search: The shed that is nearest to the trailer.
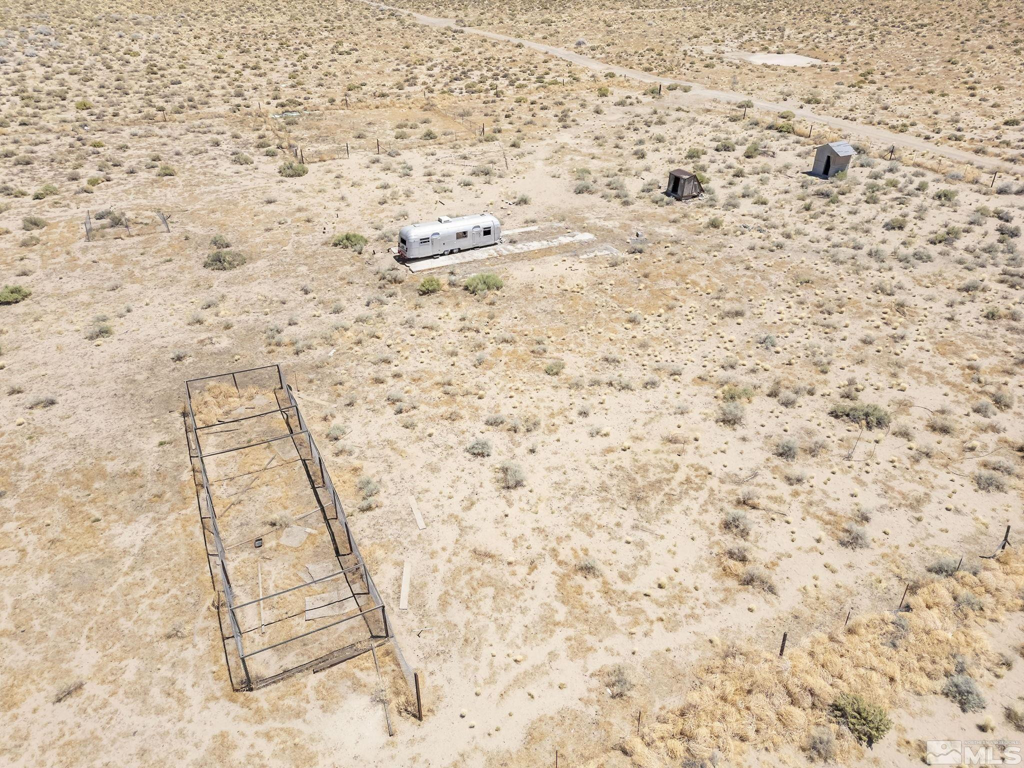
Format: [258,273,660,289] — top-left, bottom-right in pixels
[667,170,703,198]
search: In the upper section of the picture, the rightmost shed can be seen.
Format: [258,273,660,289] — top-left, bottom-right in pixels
[812,144,856,178]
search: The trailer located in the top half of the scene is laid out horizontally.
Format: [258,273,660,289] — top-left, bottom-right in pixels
[395,212,508,259]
